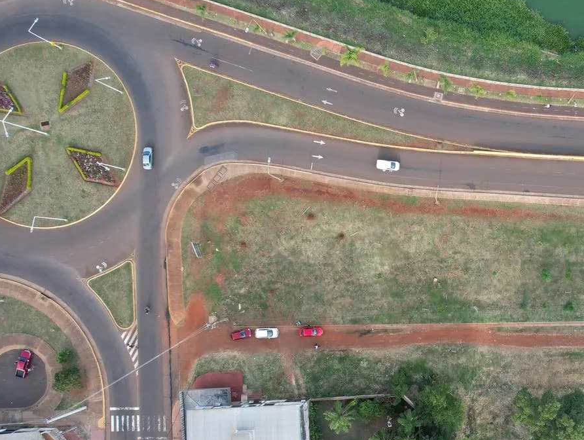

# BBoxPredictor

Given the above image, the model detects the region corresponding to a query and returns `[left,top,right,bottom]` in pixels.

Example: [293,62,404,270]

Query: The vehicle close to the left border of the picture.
[12,349,33,381]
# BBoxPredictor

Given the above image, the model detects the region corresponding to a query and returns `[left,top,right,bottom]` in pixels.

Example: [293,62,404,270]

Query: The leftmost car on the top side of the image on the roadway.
[139,146,153,171]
